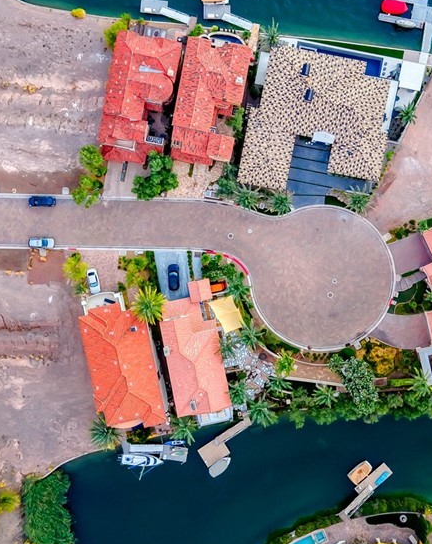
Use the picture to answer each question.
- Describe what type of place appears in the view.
residential area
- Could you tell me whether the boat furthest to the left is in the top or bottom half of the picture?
bottom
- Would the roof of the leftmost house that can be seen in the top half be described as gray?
No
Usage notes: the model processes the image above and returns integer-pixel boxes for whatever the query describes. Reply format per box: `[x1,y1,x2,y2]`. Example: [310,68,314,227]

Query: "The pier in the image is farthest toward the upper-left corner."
[140,0,197,36]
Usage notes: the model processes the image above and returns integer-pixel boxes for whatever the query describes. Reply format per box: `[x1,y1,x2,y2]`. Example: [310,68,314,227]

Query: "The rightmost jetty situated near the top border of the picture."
[379,0,432,63]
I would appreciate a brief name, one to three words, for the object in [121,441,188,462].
pier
